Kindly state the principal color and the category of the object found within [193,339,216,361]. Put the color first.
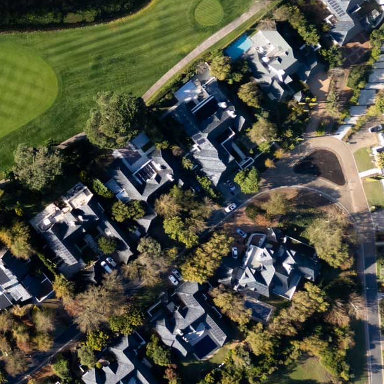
black swimming pool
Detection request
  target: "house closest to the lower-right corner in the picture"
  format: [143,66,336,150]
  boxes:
[231,232,319,306]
